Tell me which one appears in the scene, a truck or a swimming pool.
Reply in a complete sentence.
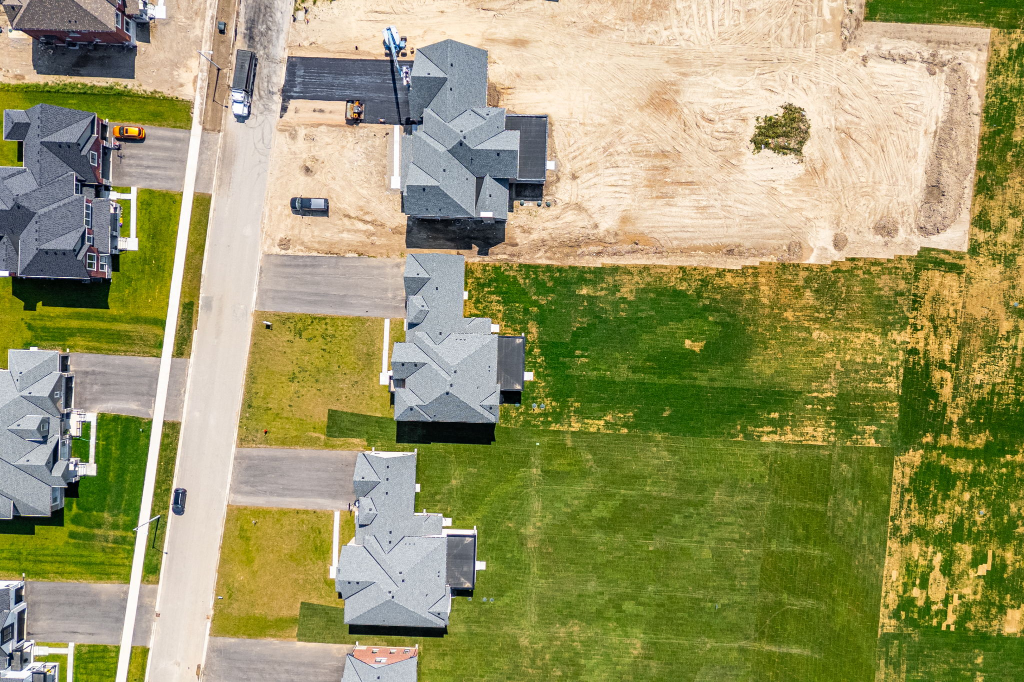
I can see a truck in this picture.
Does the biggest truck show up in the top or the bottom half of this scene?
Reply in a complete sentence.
The biggest truck is in the top half of the image.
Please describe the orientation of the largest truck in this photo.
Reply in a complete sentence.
The largest truck is oriented from top to bottom.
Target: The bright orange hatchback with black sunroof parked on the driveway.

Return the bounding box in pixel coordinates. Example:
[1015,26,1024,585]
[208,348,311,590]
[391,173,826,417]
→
[114,124,145,141]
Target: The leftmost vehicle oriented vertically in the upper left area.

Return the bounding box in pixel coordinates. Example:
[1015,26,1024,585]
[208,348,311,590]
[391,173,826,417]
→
[228,50,260,120]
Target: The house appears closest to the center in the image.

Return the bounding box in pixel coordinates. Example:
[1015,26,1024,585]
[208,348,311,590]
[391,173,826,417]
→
[388,253,533,423]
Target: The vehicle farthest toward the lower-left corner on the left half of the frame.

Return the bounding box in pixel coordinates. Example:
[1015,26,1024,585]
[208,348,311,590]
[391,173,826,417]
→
[170,487,189,516]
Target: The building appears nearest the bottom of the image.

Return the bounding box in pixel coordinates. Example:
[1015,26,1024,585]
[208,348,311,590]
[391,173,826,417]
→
[338,640,418,682]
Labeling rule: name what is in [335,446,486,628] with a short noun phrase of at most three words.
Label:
house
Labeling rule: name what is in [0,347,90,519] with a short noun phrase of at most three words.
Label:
house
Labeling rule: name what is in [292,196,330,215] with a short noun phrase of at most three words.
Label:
vehicle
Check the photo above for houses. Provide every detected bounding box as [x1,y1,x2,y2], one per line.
[0,576,61,682]
[0,102,128,282]
[0,0,157,51]
[0,347,90,519]
[388,253,533,423]
[400,38,555,227]
[338,640,418,682]
[335,446,486,628]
